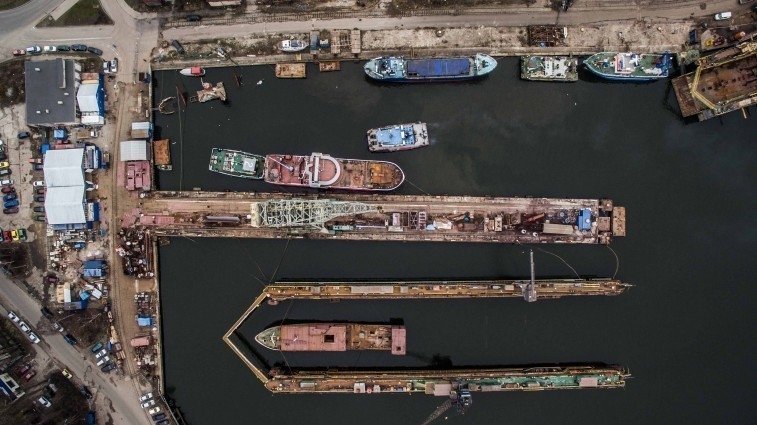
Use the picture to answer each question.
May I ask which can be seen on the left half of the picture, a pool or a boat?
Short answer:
boat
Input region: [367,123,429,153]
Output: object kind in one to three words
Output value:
ship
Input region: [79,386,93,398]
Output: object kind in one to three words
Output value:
vehicle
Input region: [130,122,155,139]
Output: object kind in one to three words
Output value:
shed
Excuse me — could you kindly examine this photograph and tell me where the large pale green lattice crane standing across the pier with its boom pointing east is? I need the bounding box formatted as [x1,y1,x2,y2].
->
[251,193,387,232]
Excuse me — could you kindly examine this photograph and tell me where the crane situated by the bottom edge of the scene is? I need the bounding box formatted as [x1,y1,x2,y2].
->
[417,384,475,425]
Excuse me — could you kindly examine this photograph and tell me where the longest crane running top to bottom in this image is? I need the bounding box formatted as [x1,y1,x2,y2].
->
[520,247,540,301]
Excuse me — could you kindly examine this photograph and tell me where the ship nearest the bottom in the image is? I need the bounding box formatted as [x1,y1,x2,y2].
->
[256,322,407,355]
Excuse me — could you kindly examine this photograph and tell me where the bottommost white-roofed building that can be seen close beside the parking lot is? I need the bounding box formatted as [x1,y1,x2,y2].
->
[42,149,94,224]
